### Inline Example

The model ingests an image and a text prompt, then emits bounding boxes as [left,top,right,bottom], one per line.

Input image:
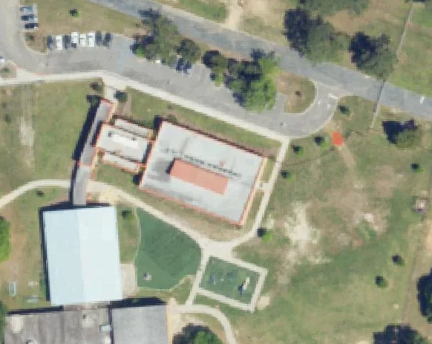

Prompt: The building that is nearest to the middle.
[141,120,269,224]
